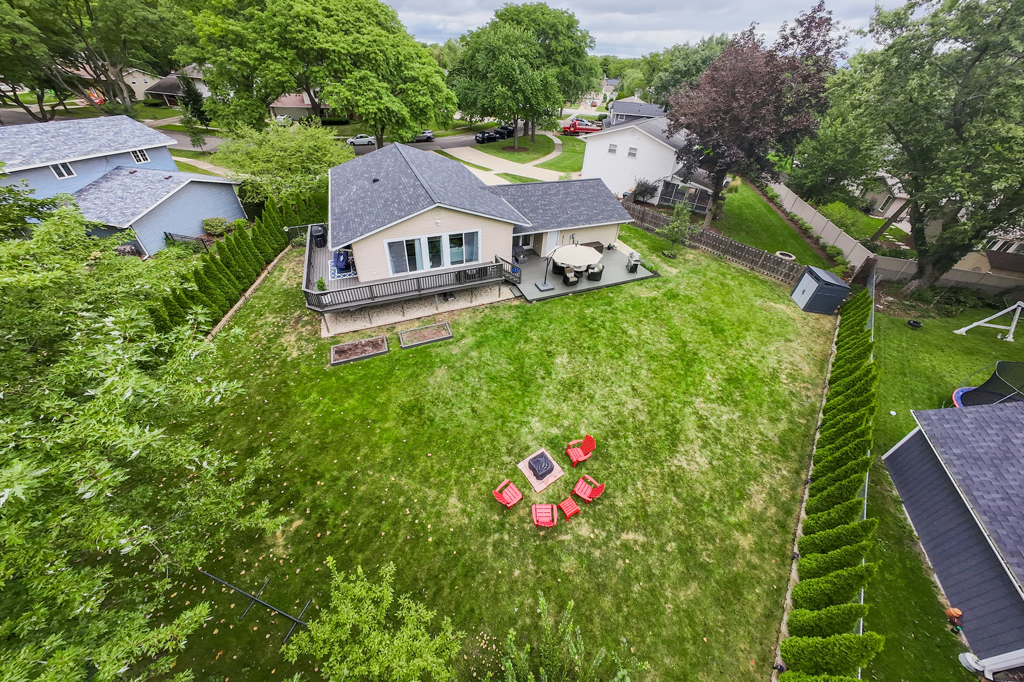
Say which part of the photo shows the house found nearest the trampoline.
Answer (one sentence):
Look in the bottom right portion of the view to spot the house found nearest the trampoline.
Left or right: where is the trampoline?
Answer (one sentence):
The trampoline is on the right side of the image.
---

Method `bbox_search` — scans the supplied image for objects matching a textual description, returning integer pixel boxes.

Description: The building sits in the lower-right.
[880,403,1024,682]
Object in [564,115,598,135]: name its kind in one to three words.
vehicle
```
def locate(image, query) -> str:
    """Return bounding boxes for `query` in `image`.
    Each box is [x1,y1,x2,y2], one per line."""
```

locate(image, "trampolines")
[945,360,1024,406]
